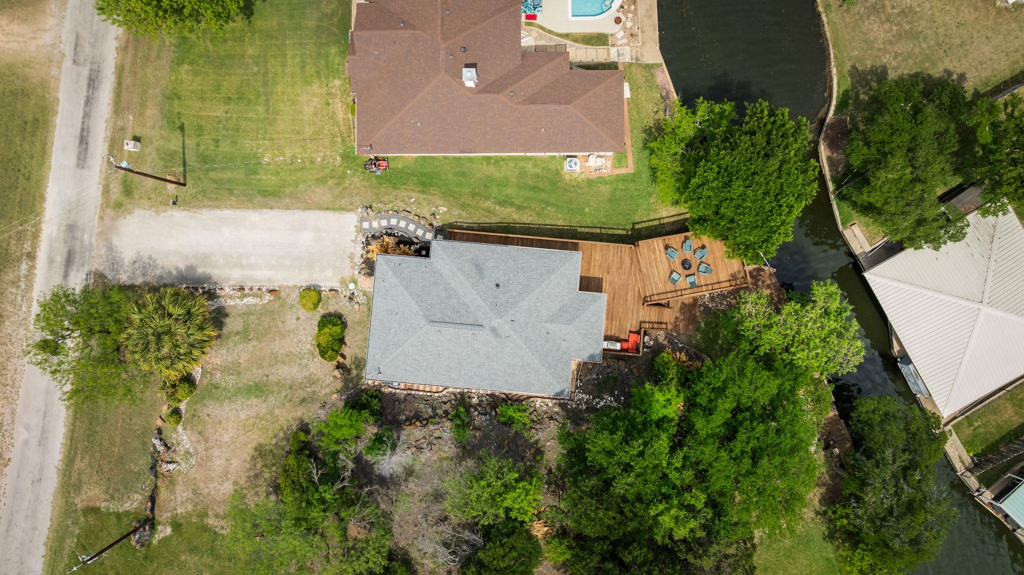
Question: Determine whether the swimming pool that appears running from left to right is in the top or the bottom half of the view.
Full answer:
You can find the swimming pool that appears running from left to right in the top half.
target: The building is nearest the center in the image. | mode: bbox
[363,237,608,400]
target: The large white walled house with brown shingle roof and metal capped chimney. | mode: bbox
[348,0,625,156]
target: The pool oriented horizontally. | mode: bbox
[568,0,620,20]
